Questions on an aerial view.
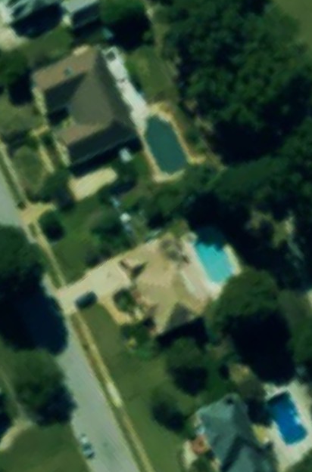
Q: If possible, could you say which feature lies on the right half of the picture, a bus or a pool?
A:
pool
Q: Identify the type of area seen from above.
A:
residential area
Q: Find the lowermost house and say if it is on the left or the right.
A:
right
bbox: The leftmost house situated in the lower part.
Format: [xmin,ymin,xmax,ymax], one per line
[125,230,204,342]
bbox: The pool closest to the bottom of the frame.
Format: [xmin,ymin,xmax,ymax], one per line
[266,381,312,467]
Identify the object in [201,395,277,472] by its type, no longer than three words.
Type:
house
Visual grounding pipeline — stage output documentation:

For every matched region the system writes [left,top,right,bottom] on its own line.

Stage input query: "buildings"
[201,395,277,472]
[0,0,41,26]
[33,44,137,166]
[64,0,105,28]
[125,230,204,342]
